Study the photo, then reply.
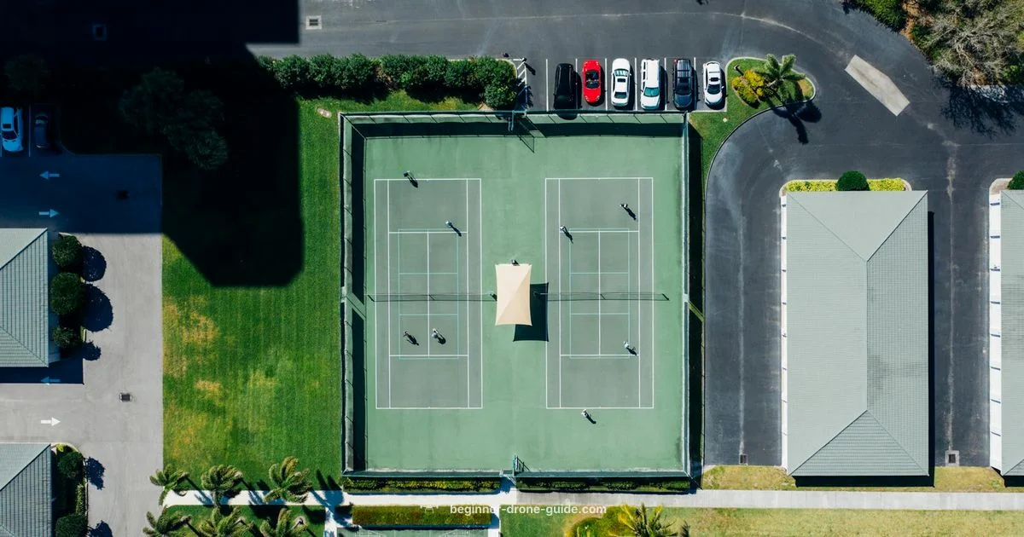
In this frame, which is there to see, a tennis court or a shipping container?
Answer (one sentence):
The one in the frame is a tennis court.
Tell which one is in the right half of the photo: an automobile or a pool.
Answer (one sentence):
The feature located in the right half of the photo is an automobile.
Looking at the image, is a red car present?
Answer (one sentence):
Yes, a red car is visible in the scene.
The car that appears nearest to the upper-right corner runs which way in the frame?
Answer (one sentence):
The car that appears nearest to the upper-right corner has been laid out vertically relative to the frame.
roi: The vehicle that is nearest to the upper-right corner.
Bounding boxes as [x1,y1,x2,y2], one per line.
[703,60,726,106]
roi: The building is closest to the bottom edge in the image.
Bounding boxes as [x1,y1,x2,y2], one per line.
[0,441,64,537]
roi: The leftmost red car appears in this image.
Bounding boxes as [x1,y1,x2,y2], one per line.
[582,58,604,103]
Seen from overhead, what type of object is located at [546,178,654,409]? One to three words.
tennis court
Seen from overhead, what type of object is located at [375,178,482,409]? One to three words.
tennis court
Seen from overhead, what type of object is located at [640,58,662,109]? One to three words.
car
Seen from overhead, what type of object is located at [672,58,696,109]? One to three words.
car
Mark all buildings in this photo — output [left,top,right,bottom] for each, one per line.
[0,227,61,367]
[988,190,1024,477]
[779,190,929,477]
[0,441,64,537]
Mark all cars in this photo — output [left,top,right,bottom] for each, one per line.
[611,58,633,107]
[0,107,23,155]
[640,58,662,109]
[703,60,726,106]
[582,58,604,103]
[552,60,575,110]
[672,58,696,109]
